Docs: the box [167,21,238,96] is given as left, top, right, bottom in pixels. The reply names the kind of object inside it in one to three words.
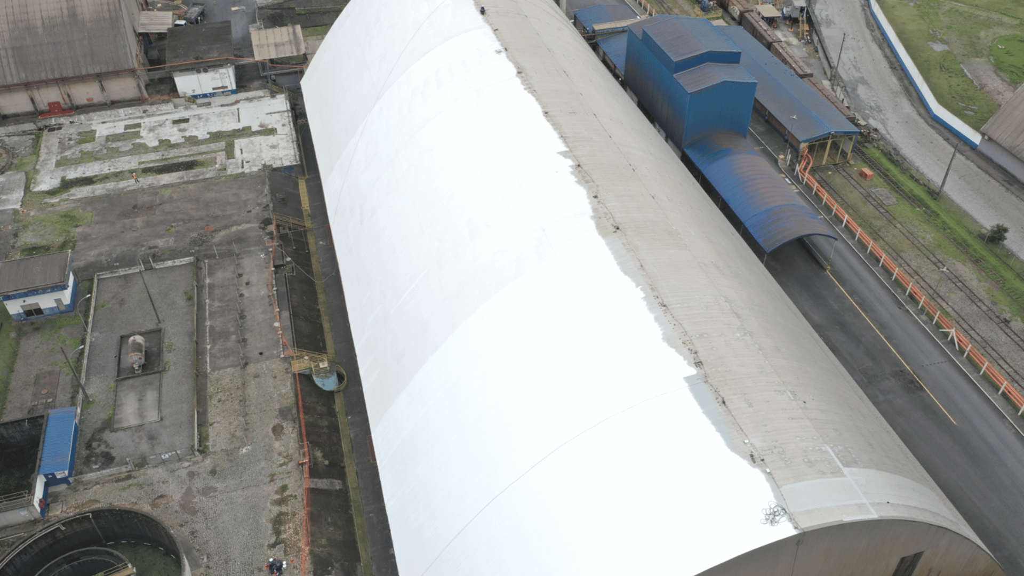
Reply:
building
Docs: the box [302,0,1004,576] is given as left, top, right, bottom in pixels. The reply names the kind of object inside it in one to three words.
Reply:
warehouse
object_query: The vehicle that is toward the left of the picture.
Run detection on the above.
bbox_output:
[180,6,206,26]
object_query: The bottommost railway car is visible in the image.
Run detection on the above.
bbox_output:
[802,78,853,123]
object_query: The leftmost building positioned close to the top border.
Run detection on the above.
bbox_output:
[0,0,145,120]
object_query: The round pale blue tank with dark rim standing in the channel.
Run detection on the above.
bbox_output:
[309,361,339,399]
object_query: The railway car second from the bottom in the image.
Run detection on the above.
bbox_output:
[772,44,814,79]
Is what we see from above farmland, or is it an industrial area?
industrial area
